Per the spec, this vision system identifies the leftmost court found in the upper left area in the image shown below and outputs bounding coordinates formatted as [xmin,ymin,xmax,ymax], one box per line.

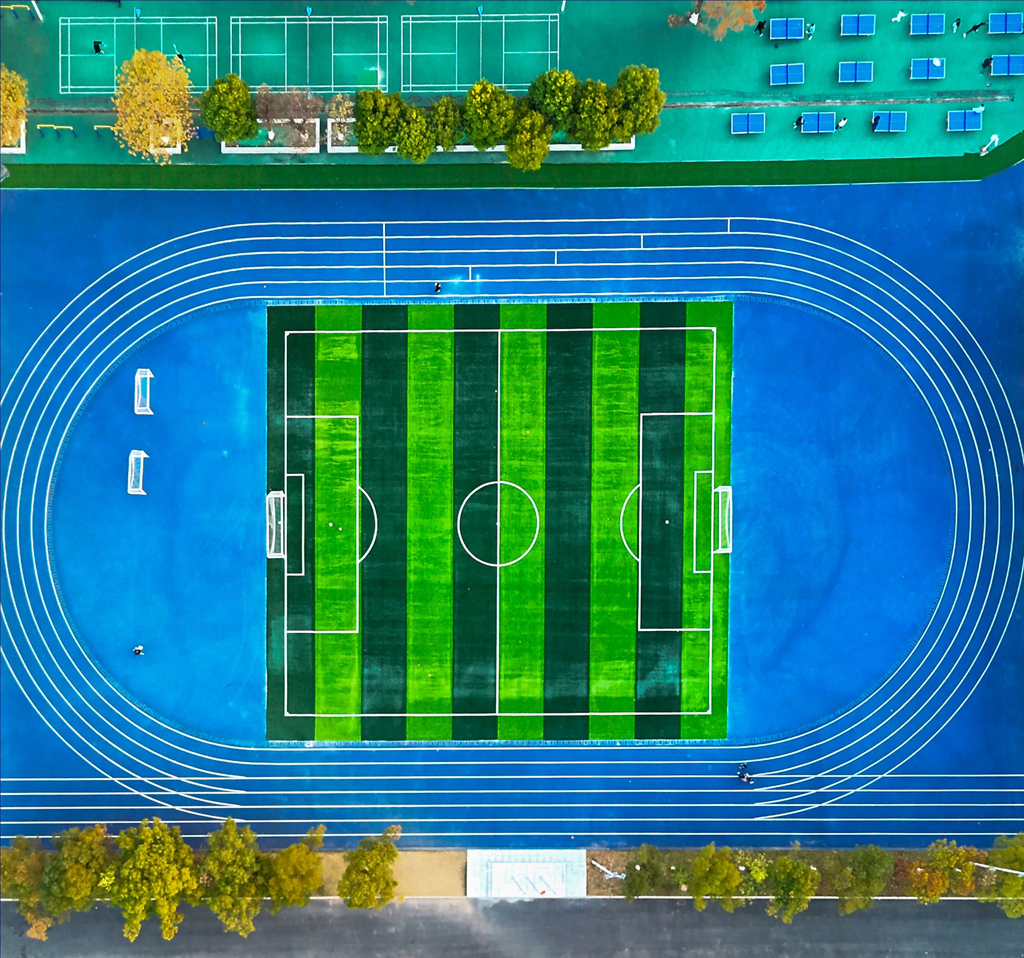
[59,16,217,93]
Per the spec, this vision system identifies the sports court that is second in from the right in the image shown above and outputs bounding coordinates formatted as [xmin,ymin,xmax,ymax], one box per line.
[230,15,388,92]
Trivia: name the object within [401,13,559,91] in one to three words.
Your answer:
sports court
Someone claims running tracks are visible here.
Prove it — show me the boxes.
[0,157,1024,848]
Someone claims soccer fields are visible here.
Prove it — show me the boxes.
[267,302,734,741]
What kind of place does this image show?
sports ground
